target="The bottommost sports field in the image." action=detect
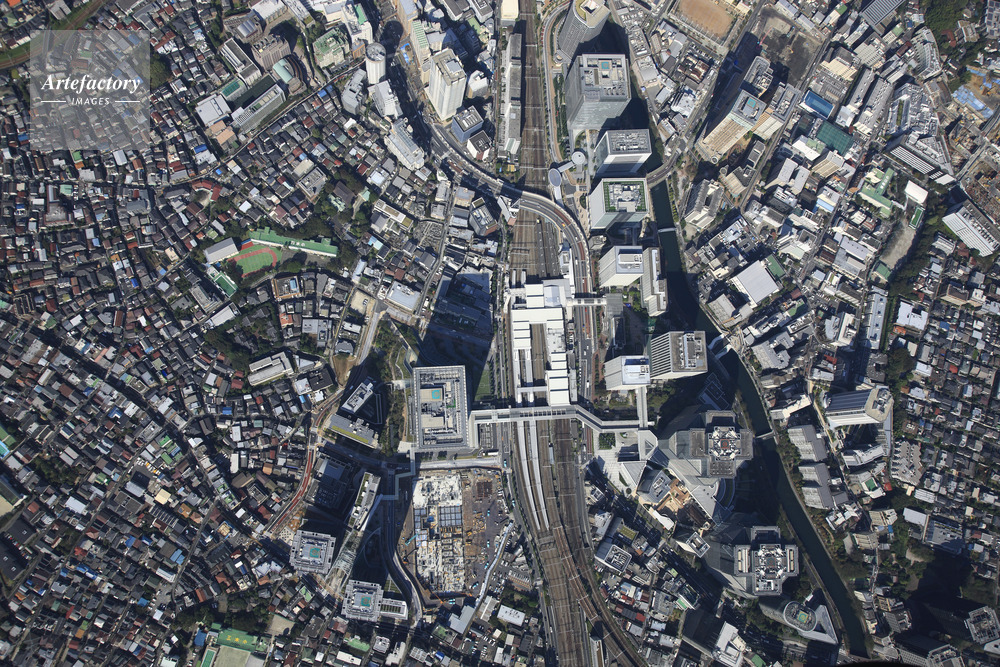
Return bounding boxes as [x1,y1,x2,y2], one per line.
[215,646,266,667]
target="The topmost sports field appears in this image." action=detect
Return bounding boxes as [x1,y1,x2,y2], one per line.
[671,0,742,51]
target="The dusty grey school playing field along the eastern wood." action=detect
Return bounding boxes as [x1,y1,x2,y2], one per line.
[884,221,914,267]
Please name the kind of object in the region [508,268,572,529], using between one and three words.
train station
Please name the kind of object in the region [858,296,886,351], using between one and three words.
building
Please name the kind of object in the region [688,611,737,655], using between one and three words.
building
